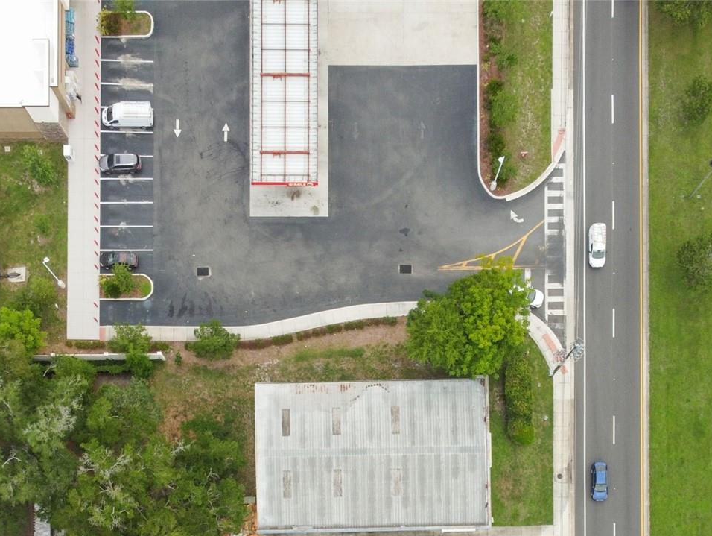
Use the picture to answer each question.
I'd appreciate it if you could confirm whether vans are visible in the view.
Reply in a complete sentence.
Yes, a van appears in the view.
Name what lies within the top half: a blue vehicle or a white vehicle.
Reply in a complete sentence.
You can see a white vehicle within the top half.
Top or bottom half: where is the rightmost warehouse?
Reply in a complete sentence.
You can find the rightmost warehouse in the bottom half.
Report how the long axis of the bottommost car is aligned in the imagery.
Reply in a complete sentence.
The bottommost car is laid out vertically.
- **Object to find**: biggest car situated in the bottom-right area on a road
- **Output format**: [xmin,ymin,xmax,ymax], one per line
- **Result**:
[589,461,608,502]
